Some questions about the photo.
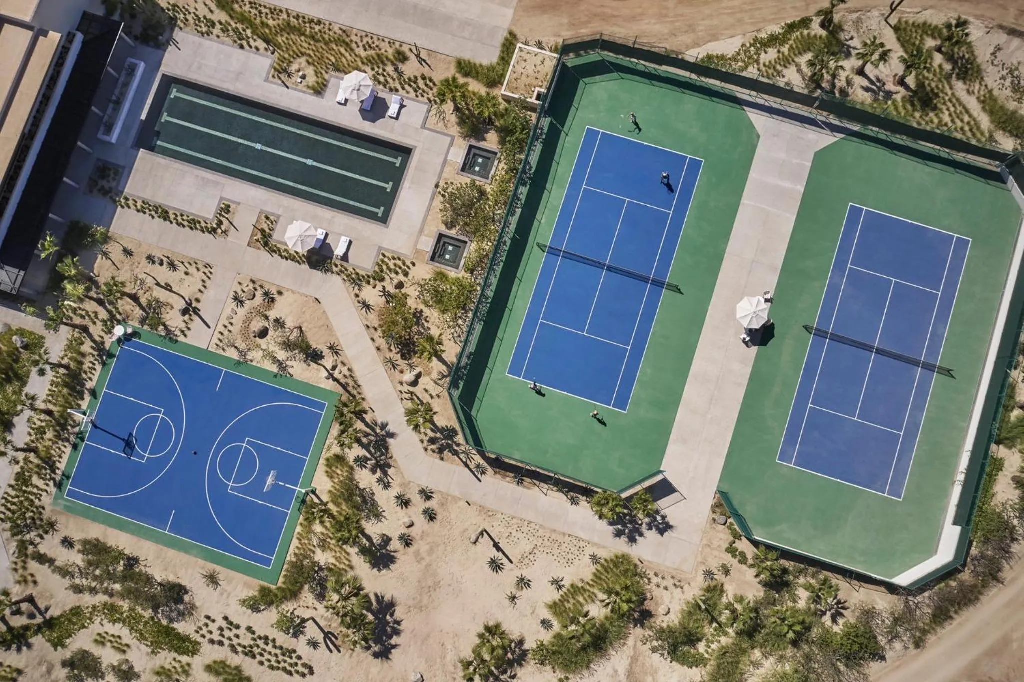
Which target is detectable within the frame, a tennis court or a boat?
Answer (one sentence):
It is a tennis court that can be seen here.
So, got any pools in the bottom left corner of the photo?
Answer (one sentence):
No, no pool can be made out in the bottom left corner of the photo.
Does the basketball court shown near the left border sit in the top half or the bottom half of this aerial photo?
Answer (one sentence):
It is in the bottom half that the basketball court shown near the left border appears.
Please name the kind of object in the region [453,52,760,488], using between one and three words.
tennis court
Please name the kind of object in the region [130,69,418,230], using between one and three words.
swimming pool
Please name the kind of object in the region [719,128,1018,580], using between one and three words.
tennis court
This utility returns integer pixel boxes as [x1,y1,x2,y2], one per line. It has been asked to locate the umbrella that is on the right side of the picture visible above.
[736,298,766,329]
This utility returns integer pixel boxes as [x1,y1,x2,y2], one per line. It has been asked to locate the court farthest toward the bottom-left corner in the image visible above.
[51,322,341,584]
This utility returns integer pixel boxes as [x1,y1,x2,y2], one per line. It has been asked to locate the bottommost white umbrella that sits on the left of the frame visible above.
[286,221,319,253]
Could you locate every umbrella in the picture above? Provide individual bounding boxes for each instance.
[342,74,373,102]
[286,221,319,253]
[736,298,766,329]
